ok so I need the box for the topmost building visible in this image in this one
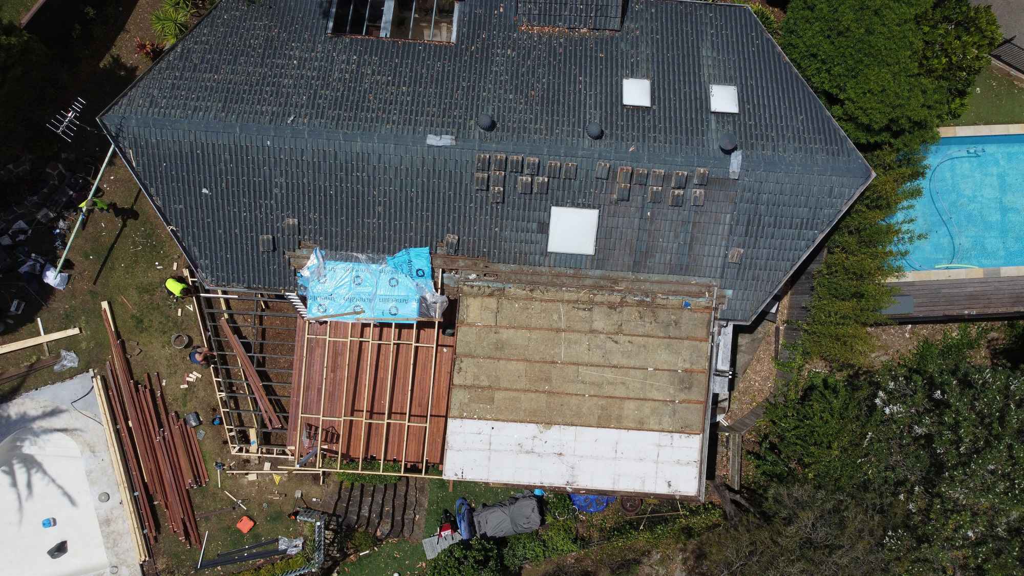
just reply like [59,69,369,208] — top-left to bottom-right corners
[92,0,878,508]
